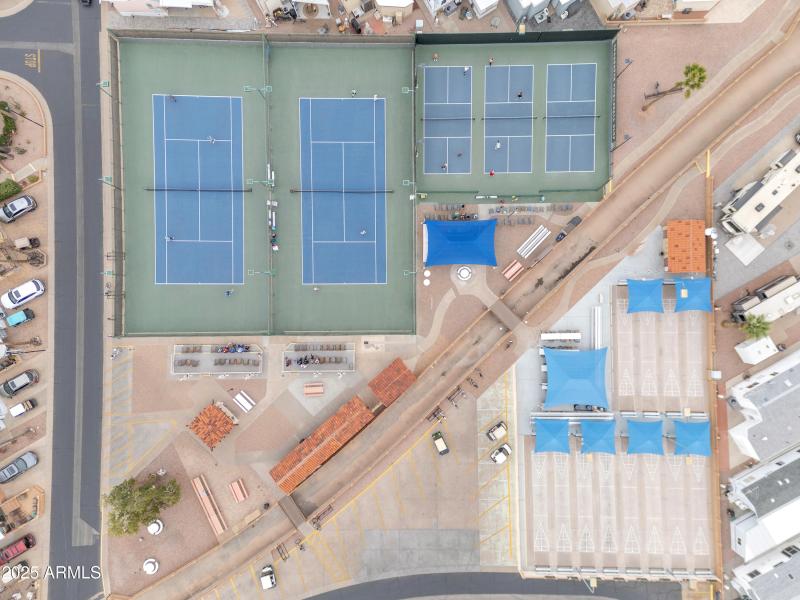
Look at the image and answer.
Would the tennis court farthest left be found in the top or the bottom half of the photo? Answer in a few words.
top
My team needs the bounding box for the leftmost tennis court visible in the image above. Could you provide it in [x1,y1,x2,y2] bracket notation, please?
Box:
[123,41,271,334]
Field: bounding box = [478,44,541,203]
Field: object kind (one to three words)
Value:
sports court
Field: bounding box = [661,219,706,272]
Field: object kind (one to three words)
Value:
building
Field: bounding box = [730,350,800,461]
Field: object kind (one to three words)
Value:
house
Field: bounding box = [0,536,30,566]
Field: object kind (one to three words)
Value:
car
